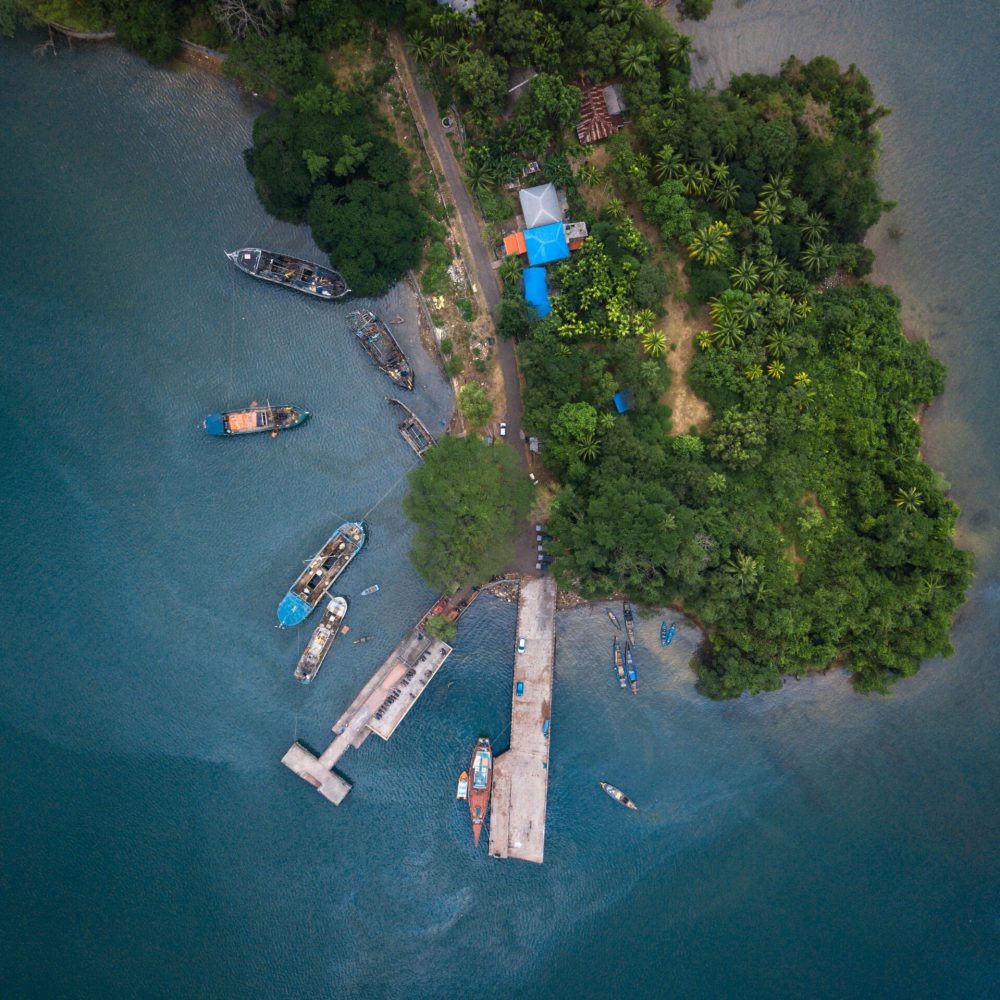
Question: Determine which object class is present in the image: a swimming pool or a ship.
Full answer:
This aerial view contains a ship.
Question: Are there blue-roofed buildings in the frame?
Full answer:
Yes, I can see a blue-roofed building in this picture.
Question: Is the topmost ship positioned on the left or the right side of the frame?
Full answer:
The topmost ship sits on the left side.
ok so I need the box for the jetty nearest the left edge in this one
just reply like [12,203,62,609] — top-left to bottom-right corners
[281,583,483,805]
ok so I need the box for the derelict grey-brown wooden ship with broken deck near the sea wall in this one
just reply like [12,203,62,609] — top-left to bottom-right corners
[351,306,413,390]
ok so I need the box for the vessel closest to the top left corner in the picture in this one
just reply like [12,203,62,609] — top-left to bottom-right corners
[224,249,351,300]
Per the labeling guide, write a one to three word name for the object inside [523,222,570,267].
house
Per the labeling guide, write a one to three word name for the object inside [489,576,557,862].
pier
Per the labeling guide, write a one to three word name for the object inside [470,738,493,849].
ship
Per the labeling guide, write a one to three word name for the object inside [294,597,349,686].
boat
